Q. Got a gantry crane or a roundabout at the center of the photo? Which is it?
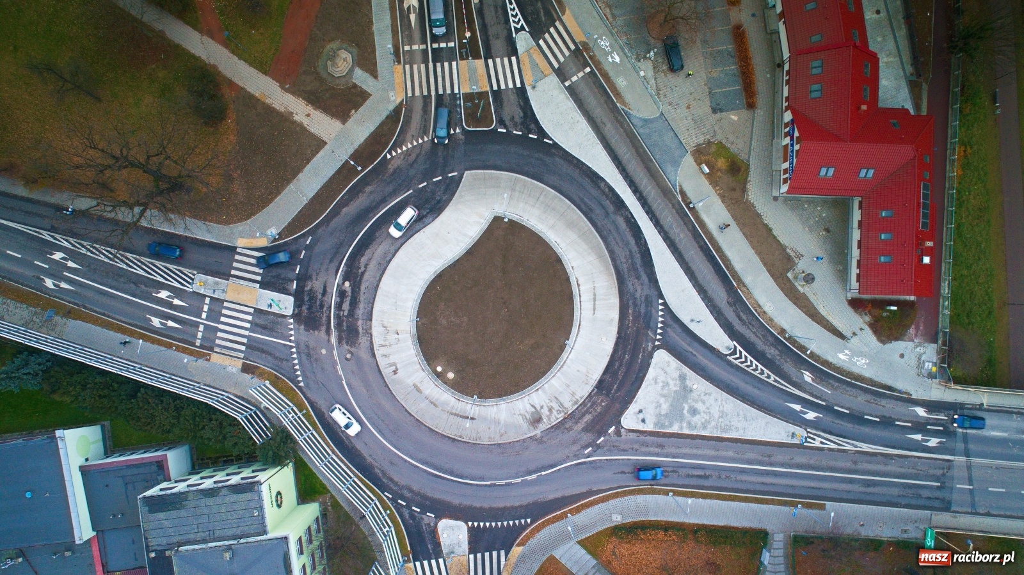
roundabout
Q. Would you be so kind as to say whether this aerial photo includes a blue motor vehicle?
Yes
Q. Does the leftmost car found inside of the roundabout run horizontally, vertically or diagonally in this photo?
diagonally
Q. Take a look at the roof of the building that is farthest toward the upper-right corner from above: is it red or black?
red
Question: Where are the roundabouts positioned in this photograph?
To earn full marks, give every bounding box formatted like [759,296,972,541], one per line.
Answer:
[291,129,940,525]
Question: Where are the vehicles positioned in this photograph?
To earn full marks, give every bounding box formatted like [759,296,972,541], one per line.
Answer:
[635,468,665,484]
[145,240,182,259]
[327,405,361,438]
[664,33,685,71]
[954,415,990,431]
[388,204,417,237]
[255,251,291,268]
[432,108,449,144]
[428,0,446,35]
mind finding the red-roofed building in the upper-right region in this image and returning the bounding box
[768,0,936,296]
